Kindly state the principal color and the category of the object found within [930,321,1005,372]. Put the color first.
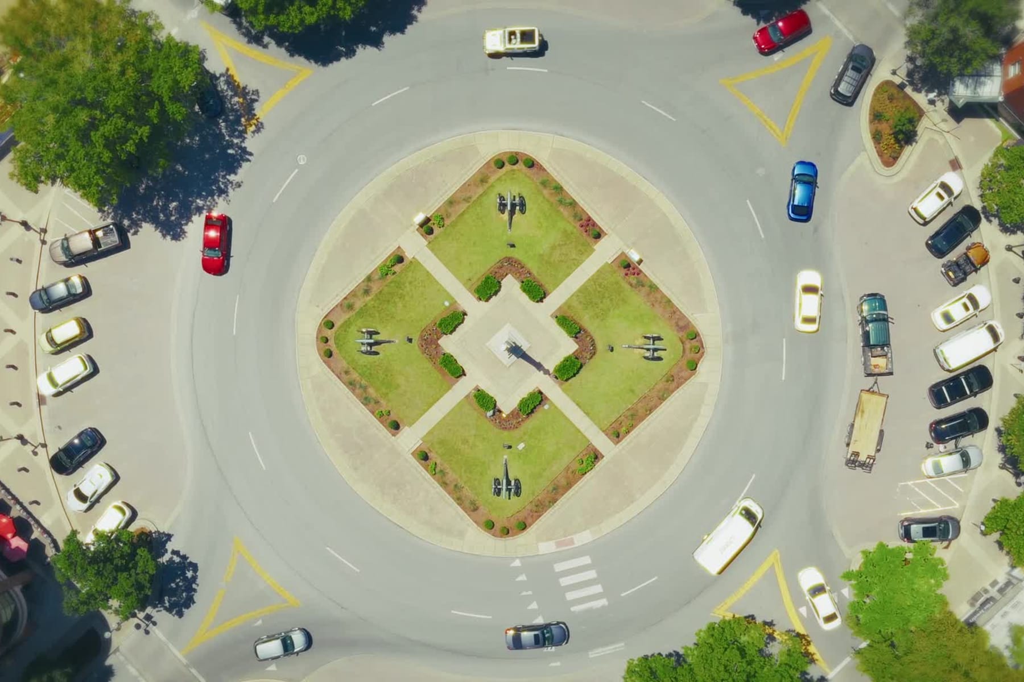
white van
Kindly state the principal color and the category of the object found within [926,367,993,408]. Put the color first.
black car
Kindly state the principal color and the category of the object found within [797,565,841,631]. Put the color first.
white car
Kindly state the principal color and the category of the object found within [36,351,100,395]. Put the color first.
white car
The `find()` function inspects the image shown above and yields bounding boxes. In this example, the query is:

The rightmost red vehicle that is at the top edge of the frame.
[752,6,815,57]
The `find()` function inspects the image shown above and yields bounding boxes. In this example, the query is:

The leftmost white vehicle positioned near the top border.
[484,25,545,58]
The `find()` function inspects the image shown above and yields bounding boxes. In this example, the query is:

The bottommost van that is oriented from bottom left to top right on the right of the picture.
[692,492,768,585]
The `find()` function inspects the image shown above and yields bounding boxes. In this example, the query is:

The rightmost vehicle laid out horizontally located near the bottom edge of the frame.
[506,620,569,651]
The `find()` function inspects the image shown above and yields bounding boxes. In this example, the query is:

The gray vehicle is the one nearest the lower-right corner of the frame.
[897,515,959,545]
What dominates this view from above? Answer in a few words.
paved ground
